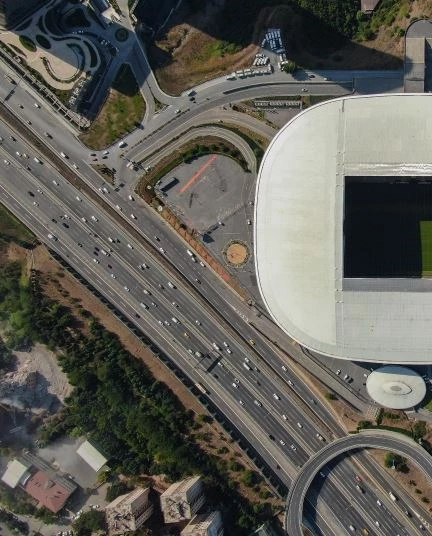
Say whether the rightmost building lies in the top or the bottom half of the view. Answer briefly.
top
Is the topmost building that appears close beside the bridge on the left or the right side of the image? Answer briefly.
right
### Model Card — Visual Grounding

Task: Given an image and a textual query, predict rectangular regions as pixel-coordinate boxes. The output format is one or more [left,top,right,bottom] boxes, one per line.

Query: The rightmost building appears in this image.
[404,20,432,93]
